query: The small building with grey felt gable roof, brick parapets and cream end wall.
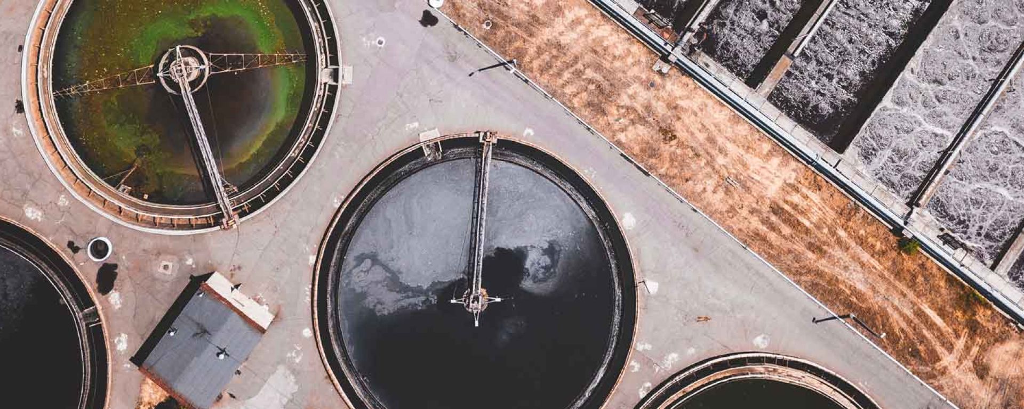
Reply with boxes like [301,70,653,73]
[135,273,276,409]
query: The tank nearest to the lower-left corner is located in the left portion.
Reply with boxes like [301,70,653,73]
[0,216,113,409]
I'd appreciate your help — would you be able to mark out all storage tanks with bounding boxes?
[0,216,113,409]
[312,132,638,409]
[638,351,879,409]
[21,0,341,233]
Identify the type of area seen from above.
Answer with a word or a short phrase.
industrial area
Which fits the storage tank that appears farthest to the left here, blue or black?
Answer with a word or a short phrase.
black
